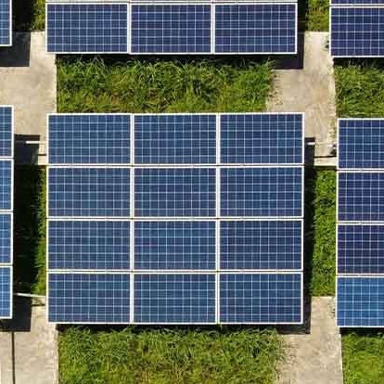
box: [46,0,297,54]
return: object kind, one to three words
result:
solar array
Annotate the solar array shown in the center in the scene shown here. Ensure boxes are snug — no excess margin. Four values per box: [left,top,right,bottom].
[46,113,304,324]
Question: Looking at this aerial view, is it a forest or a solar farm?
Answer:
solar farm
